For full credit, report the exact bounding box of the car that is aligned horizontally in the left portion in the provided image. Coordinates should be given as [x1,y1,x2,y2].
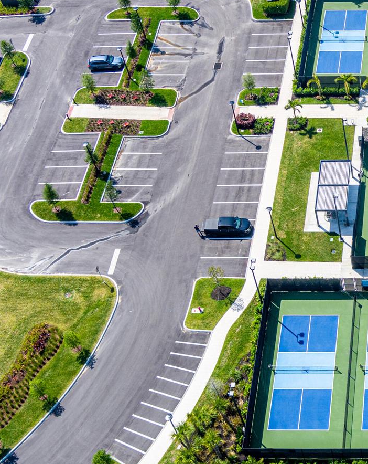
[86,56,126,73]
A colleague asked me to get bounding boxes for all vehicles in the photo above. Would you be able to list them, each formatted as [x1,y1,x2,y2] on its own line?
[86,56,126,73]
[200,217,254,238]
